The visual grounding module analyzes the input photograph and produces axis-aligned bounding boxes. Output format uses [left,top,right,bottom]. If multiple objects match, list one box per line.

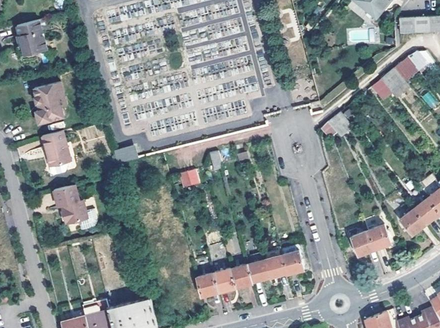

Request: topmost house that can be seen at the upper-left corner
[16,18,48,56]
